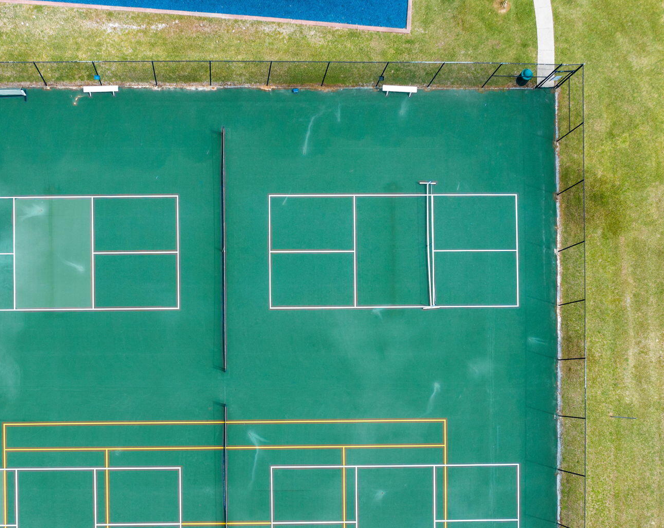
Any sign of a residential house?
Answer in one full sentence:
No, no residential house is visible in the view.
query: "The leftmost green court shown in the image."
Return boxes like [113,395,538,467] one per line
[0,195,181,312]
